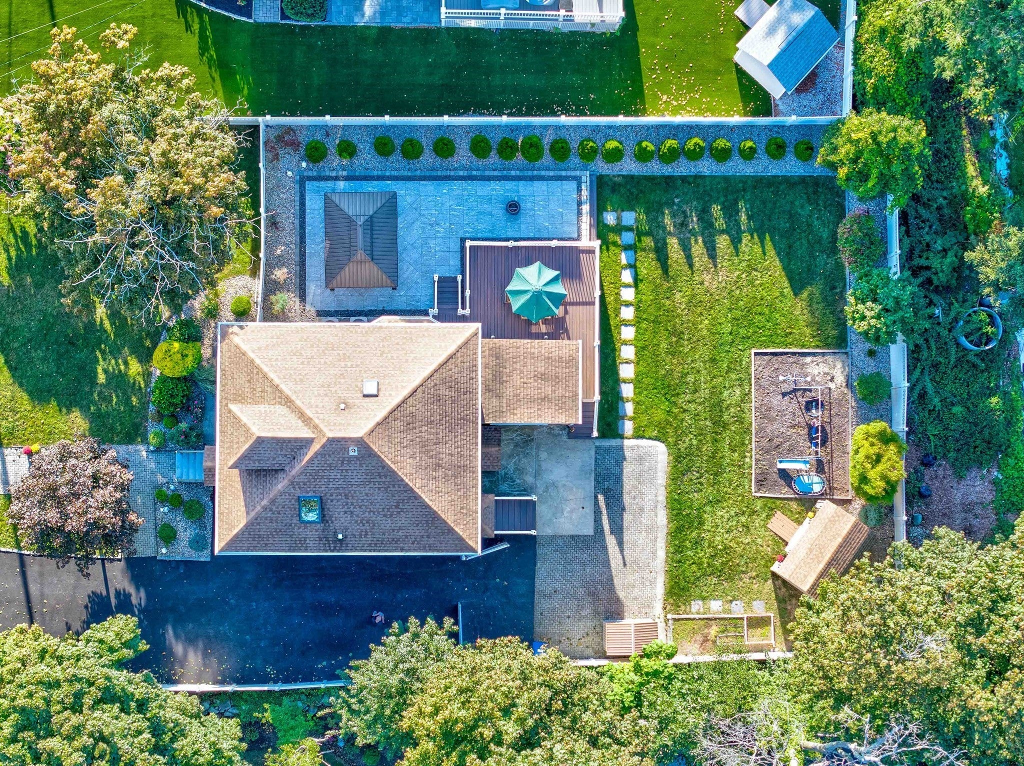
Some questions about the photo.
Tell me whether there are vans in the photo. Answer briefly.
No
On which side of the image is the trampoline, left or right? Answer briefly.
right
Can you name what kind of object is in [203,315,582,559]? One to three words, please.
house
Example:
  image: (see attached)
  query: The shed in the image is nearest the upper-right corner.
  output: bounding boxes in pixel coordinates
[732,0,839,97]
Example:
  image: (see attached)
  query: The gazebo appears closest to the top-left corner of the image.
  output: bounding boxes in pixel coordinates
[324,189,399,293]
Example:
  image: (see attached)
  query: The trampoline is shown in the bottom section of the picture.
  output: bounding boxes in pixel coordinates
[792,474,825,494]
